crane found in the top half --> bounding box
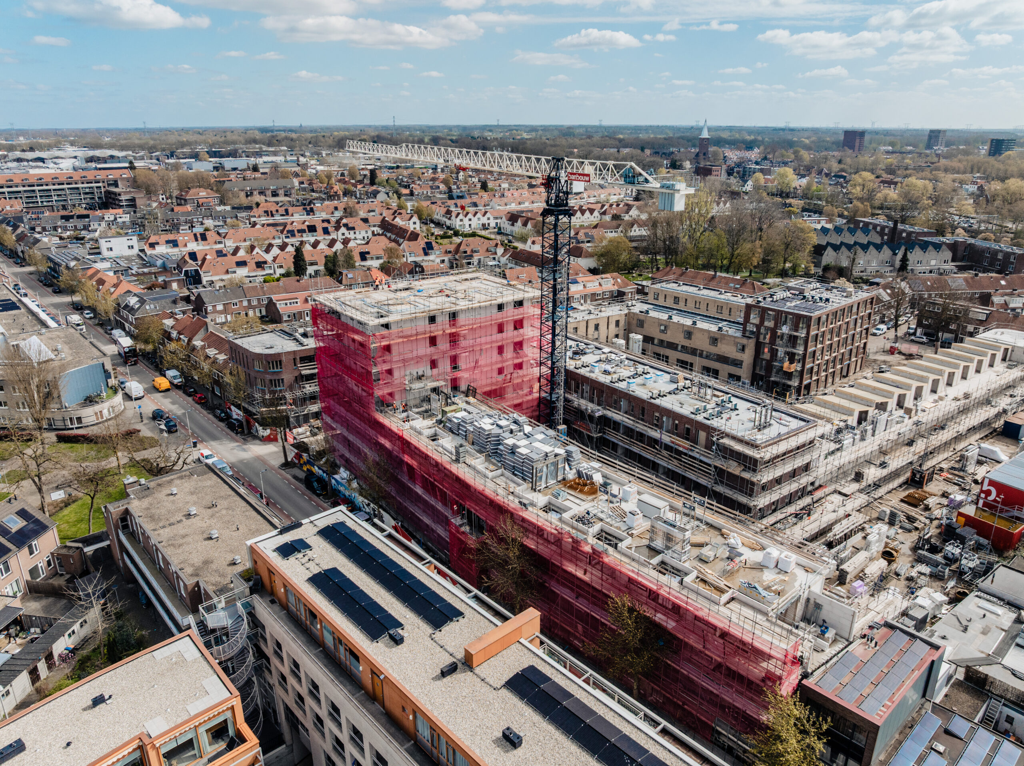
[342,139,703,438]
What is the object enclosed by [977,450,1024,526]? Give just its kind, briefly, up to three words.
building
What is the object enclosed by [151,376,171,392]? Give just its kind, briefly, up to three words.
vehicle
